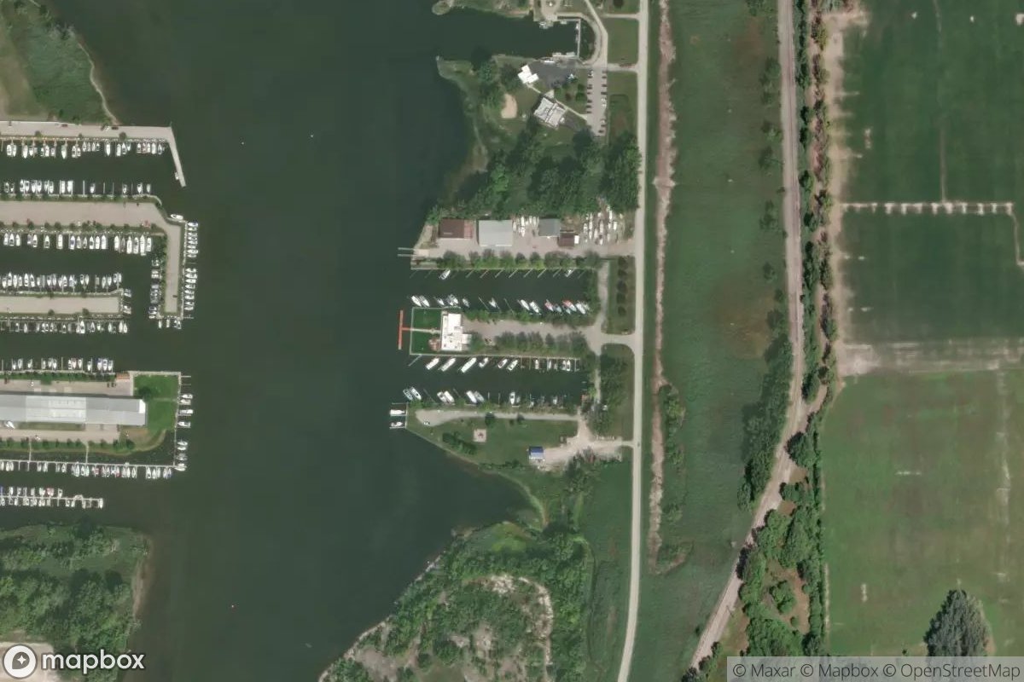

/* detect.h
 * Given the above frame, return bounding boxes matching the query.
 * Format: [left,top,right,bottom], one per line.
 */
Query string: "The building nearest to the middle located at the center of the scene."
[441,313,471,351]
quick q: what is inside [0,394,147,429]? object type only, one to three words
shed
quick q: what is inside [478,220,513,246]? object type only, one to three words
building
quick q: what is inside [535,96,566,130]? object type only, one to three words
building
